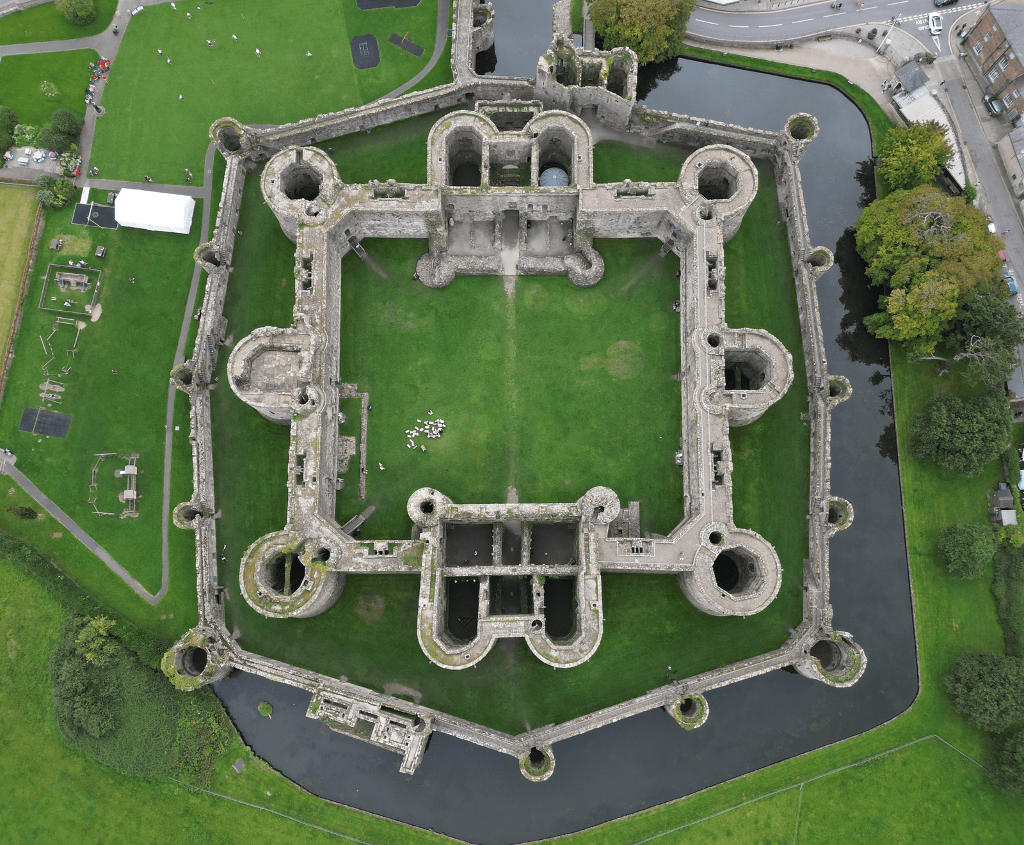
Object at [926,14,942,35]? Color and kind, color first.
white car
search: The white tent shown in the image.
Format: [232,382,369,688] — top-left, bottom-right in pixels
[115,190,199,239]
